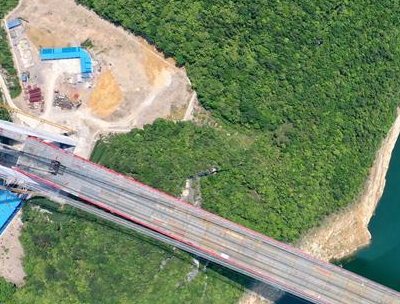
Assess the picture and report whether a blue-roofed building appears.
Yes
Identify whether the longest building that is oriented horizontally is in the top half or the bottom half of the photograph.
top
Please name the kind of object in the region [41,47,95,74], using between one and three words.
building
